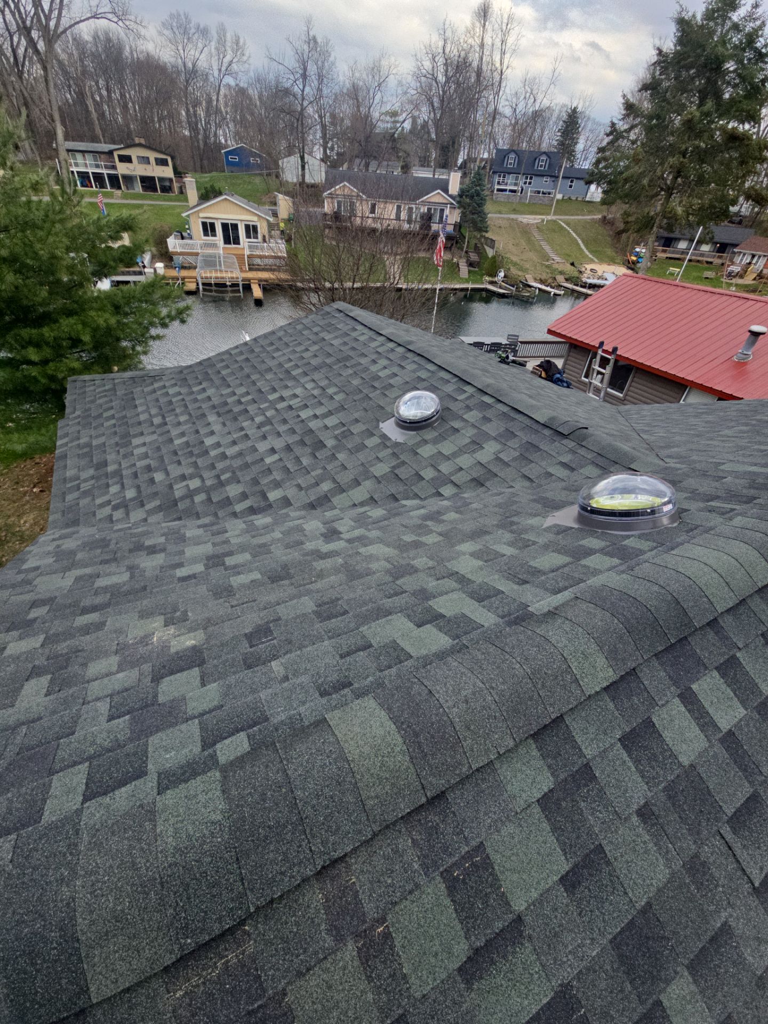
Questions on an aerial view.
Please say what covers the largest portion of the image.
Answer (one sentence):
The scene is dominated by buildings.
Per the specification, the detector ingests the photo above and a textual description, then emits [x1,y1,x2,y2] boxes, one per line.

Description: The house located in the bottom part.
[0,297,768,1024]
